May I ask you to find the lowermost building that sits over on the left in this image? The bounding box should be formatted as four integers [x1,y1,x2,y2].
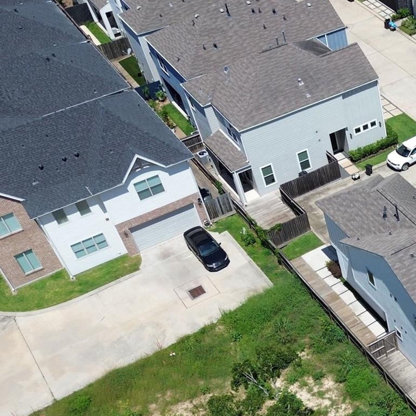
[0,85,214,293]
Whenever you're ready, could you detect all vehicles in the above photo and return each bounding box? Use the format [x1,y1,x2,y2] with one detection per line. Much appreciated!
[386,134,416,171]
[180,225,228,272]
